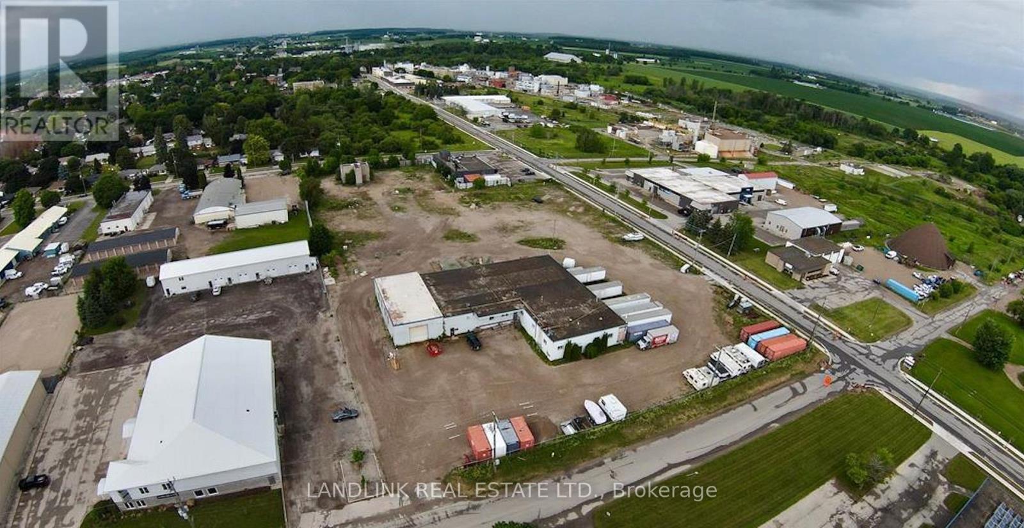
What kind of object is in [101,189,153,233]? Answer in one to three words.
building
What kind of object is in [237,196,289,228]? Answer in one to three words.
barn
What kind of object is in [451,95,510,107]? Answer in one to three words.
building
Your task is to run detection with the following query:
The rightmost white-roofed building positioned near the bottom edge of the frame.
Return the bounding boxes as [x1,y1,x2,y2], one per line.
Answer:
[97,334,285,515]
